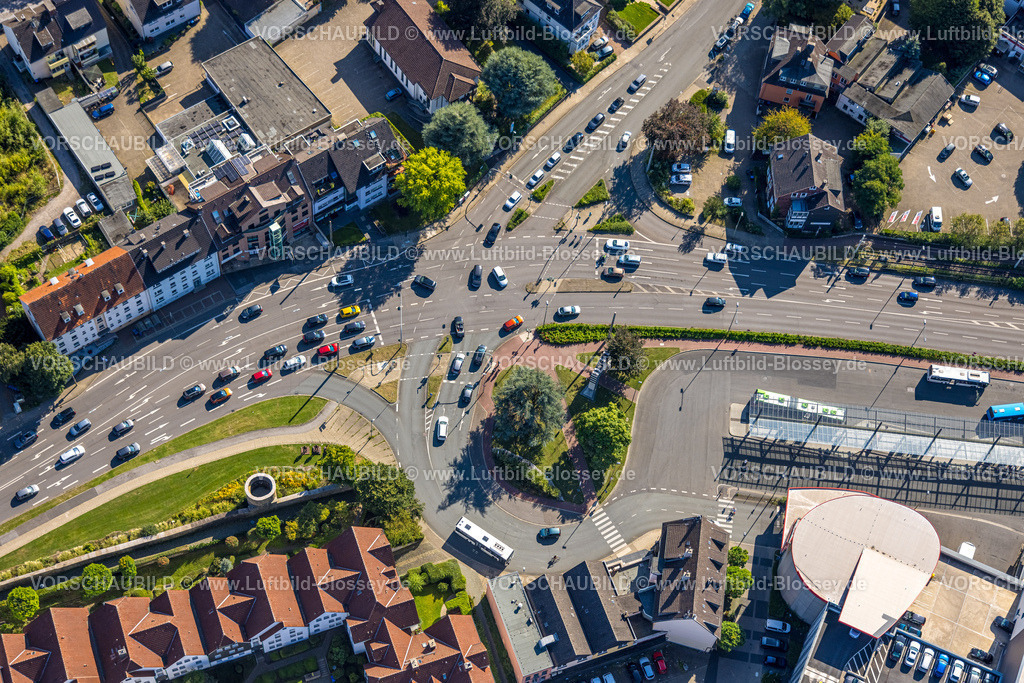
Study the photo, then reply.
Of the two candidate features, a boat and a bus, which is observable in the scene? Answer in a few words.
bus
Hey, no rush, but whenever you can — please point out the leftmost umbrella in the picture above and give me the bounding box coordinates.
[84,70,106,86]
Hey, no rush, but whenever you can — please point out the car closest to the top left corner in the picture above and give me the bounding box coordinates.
[91,101,115,119]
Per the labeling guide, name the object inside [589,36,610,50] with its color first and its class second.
white car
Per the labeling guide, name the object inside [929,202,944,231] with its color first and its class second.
white camper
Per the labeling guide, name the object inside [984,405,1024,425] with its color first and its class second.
blue bus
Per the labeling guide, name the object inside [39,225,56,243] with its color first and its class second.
blue car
